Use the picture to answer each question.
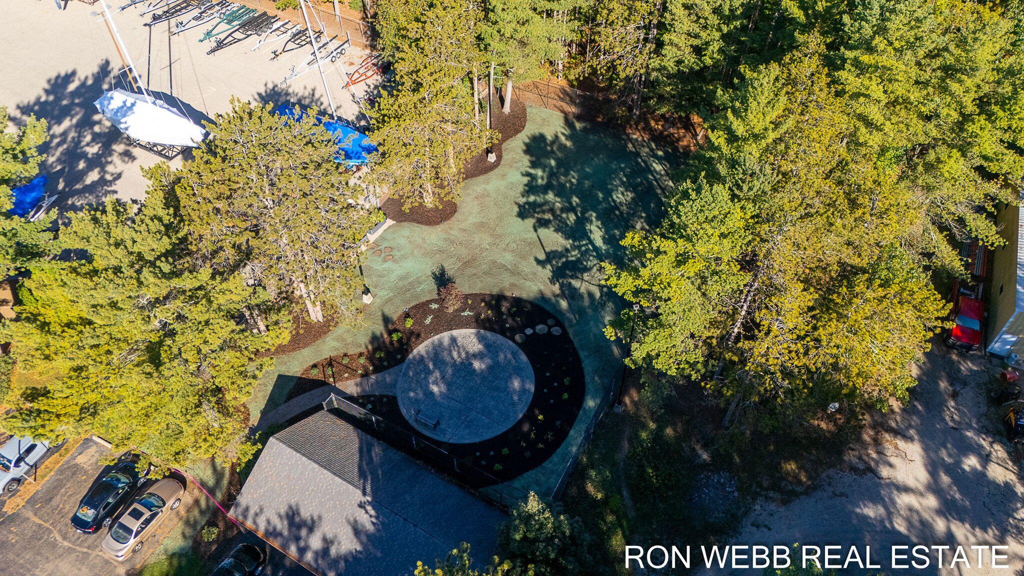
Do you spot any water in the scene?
No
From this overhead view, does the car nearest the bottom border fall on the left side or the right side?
left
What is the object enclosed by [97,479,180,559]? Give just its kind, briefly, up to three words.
car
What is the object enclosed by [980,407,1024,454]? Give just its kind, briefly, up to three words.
work vehicle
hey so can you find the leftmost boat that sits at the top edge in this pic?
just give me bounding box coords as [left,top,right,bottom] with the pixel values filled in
[81,0,214,166]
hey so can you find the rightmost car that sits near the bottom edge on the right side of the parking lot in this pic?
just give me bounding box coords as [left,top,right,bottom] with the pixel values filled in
[200,530,266,576]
